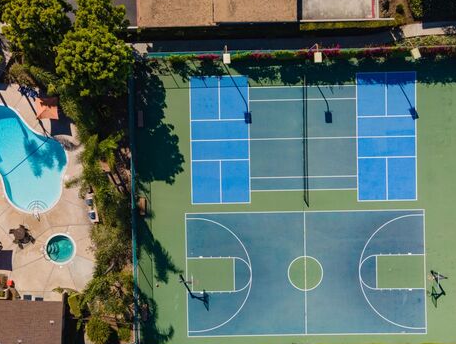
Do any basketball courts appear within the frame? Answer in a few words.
Yes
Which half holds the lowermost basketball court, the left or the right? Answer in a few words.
right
